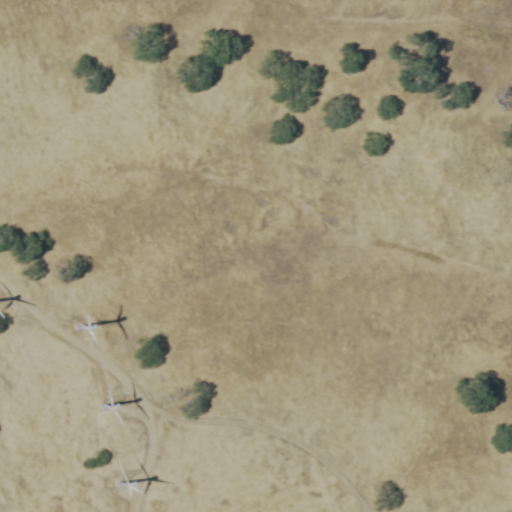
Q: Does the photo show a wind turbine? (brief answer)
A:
Yes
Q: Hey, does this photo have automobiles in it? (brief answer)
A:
No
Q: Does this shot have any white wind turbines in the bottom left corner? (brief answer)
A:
Yes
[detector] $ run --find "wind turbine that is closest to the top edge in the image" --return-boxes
[72,312,100,344]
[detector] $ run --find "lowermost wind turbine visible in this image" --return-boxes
[114,468,136,500]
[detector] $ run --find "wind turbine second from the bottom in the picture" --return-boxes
[97,391,122,426]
